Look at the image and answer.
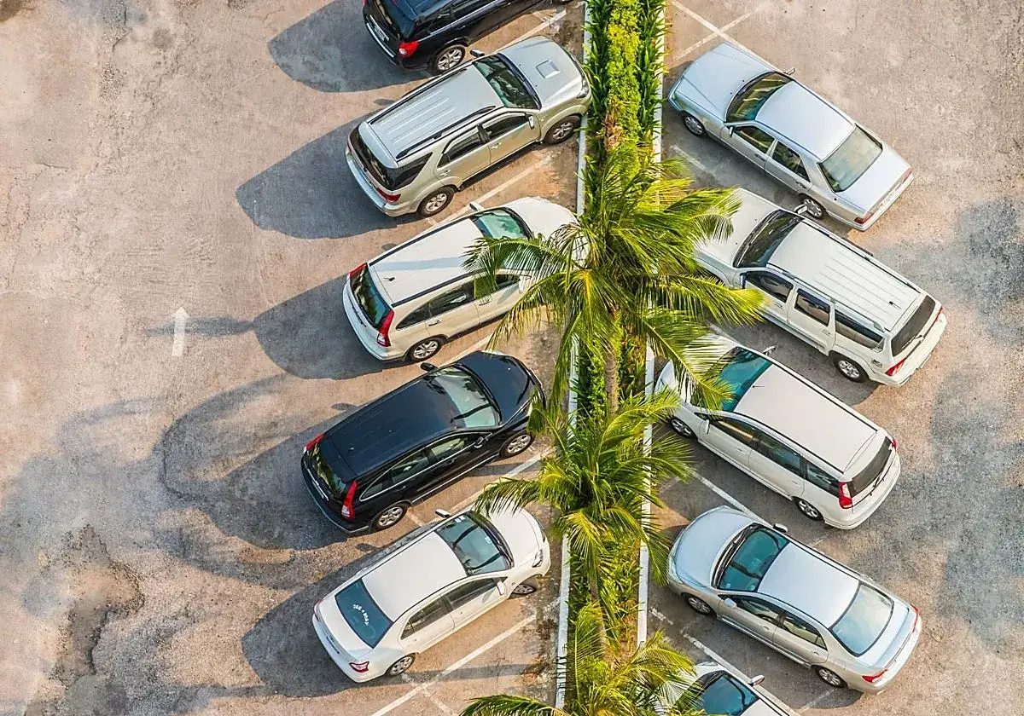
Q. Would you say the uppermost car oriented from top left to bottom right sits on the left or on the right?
right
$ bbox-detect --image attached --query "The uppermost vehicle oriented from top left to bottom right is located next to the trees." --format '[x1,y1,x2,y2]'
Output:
[663,45,908,239]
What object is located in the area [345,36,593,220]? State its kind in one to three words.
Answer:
car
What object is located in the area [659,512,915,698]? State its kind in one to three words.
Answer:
car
